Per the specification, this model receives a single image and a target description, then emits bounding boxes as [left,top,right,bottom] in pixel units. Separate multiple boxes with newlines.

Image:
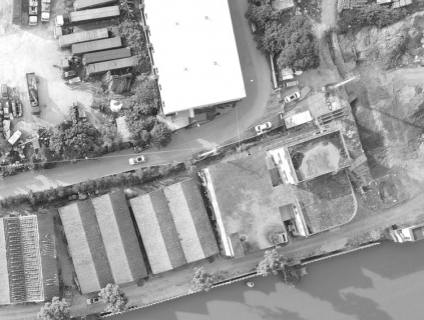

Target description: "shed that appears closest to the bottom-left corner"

[0,215,60,305]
